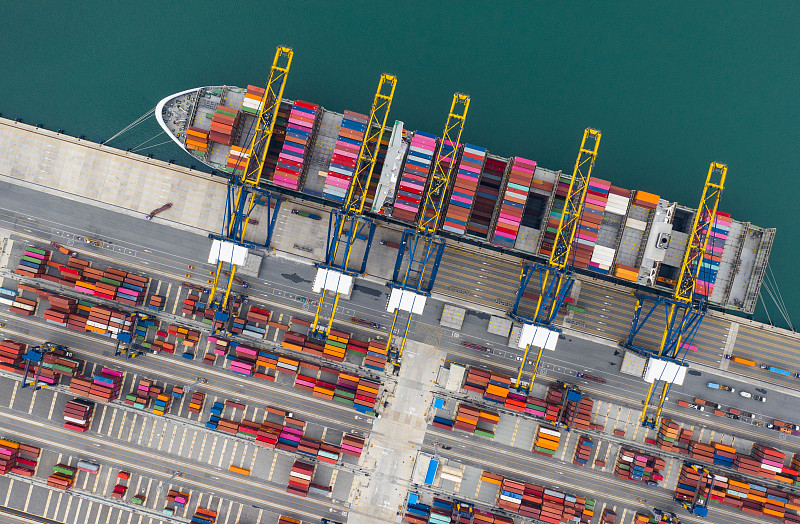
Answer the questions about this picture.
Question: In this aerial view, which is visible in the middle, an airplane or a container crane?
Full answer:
Looking in the middle, you will find a container crane.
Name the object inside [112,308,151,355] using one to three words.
crane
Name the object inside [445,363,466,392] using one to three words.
shed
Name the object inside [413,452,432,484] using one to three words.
shed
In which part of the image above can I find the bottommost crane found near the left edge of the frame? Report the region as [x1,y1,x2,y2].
[18,340,59,387]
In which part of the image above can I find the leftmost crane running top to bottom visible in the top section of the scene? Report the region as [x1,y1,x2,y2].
[204,41,297,316]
